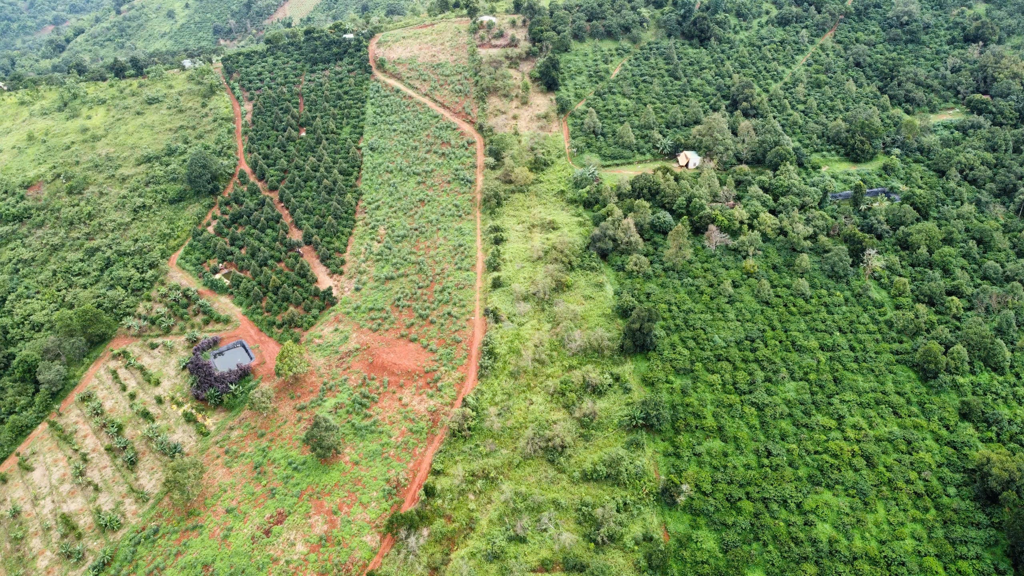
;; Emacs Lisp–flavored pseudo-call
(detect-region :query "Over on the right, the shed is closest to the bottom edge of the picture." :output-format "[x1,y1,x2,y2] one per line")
[671,150,702,174]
